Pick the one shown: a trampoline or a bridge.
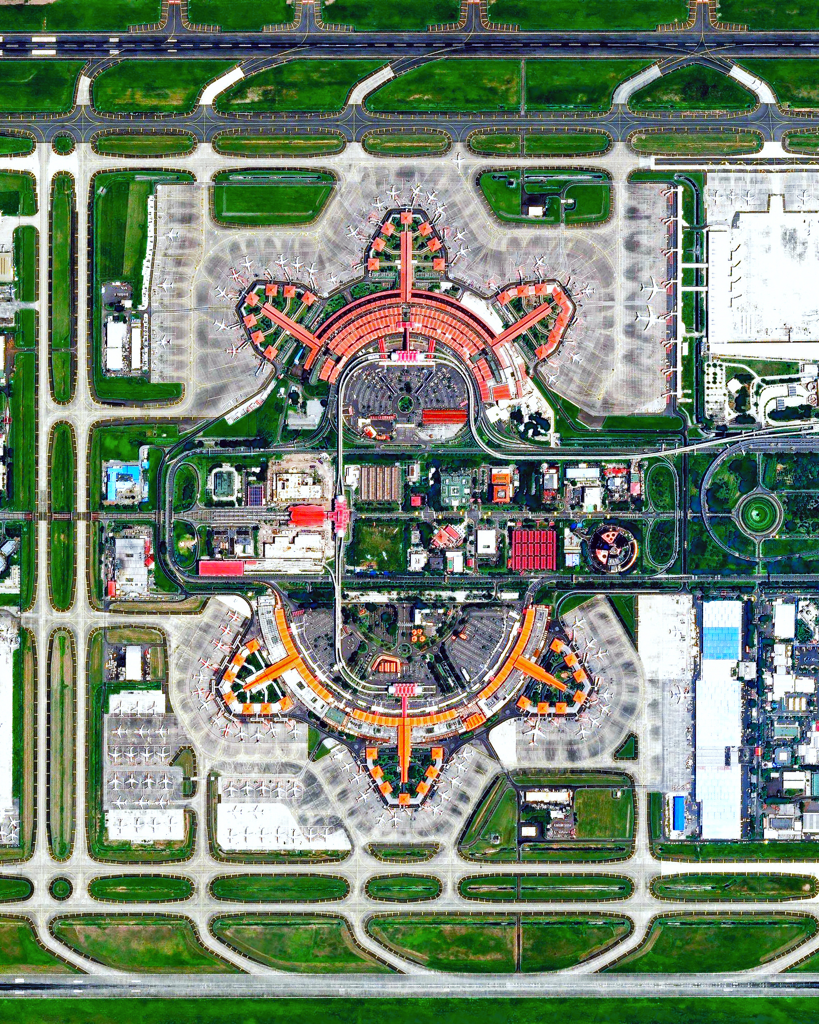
bridge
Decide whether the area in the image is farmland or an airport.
airport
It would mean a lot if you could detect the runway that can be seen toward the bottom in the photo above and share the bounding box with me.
[0,973,819,999]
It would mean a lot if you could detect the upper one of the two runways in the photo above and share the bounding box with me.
[0,30,819,60]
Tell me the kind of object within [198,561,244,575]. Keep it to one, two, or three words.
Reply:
building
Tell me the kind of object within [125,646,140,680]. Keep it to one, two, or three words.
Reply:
hangar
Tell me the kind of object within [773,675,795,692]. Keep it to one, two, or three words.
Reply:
building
